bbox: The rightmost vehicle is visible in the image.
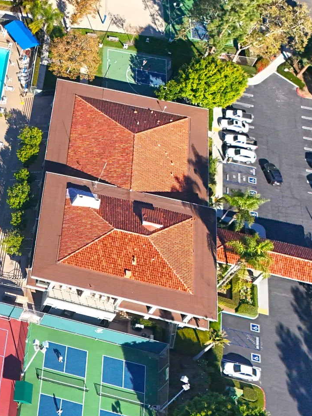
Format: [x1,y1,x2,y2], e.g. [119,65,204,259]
[260,163,285,186]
